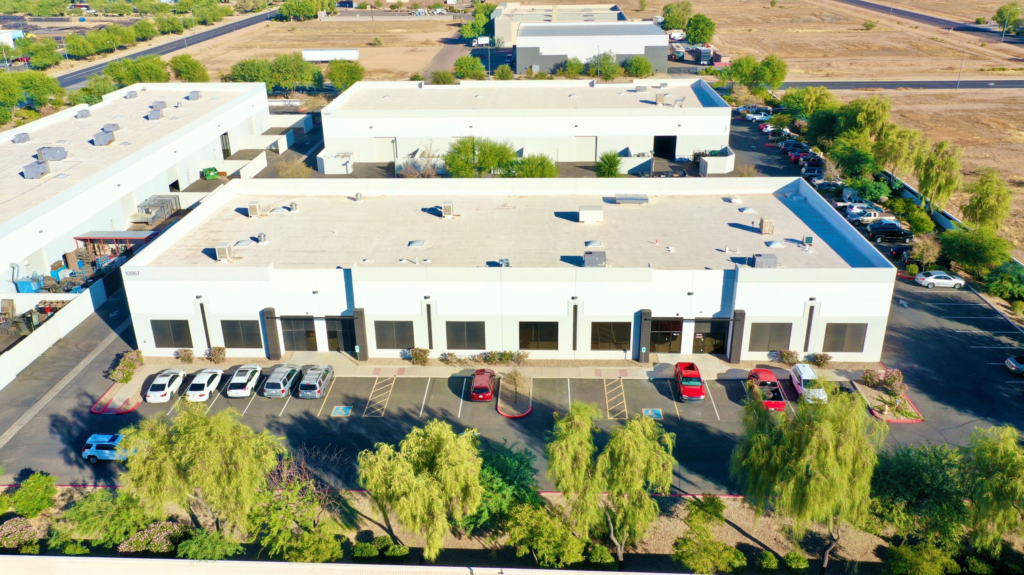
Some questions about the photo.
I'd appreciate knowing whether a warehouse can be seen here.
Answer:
Yes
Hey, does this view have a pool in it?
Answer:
No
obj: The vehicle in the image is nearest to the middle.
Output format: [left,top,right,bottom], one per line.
[468,361,499,398]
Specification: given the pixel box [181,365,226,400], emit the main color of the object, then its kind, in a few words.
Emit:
white car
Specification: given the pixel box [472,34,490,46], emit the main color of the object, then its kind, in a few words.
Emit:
white vehicle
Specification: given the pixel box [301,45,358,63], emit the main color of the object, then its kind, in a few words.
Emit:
white trailer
